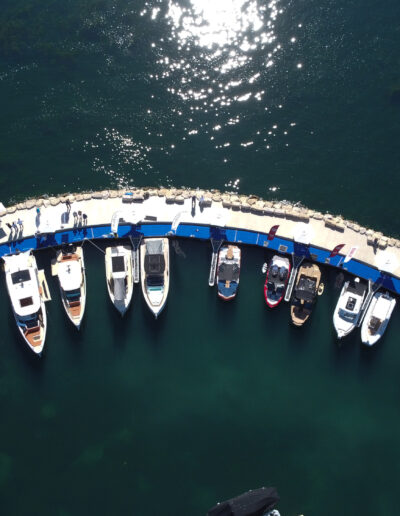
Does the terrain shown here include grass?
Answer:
No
